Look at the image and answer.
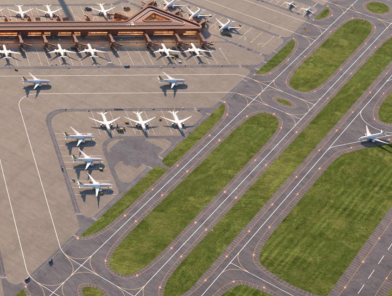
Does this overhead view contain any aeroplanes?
Yes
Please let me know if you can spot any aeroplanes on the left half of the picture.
Yes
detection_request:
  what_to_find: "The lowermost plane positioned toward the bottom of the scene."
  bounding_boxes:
[78,173,112,195]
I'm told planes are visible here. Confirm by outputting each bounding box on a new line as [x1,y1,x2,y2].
[188,4,204,19]
[21,72,50,88]
[282,1,296,8]
[162,109,191,130]
[91,108,117,131]
[125,108,155,131]
[48,44,72,58]
[39,5,59,18]
[0,44,18,59]
[156,71,185,87]
[163,0,179,10]
[90,3,113,17]
[217,16,235,31]
[78,173,112,195]
[9,3,32,19]
[359,125,389,143]
[155,43,182,58]
[81,43,105,58]
[186,43,206,57]
[62,126,93,145]
[70,147,102,168]
[299,8,314,13]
